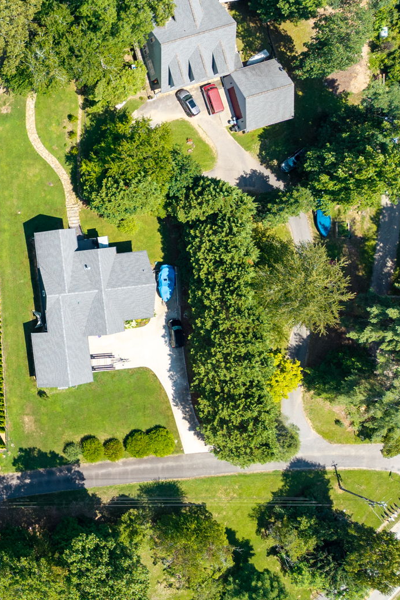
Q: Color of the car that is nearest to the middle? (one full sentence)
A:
In this view, the car that is nearest to the middle is black.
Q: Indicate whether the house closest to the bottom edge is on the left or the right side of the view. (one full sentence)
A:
It is on the left.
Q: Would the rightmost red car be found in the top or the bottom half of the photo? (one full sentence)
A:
Seen from above, the rightmost red car lies in the top half of the view.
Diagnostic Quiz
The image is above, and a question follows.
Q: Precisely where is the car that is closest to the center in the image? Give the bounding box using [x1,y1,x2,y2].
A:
[164,316,184,349]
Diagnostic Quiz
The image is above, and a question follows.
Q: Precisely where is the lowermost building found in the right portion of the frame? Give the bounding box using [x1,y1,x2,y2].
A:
[222,59,294,133]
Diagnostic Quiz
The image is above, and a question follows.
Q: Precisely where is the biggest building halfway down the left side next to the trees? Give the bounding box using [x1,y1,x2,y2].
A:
[29,229,159,387]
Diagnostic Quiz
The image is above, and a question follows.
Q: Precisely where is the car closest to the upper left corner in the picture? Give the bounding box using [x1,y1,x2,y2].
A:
[174,86,202,120]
